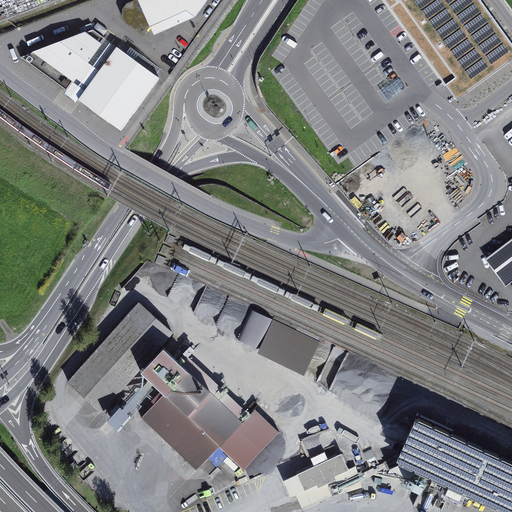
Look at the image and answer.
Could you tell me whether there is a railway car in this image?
Yes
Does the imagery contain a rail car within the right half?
Yes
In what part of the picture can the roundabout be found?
top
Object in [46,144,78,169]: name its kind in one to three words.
rail car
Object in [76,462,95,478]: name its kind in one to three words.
vehicle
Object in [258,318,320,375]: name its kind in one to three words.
building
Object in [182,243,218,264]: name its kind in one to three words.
rail car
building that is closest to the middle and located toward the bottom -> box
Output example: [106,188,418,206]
[238,310,272,352]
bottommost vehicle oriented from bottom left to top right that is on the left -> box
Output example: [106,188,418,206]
[180,494,200,509]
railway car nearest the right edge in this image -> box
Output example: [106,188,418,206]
[353,322,383,340]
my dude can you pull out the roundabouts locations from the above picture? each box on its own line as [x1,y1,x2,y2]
[172,68,244,139]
